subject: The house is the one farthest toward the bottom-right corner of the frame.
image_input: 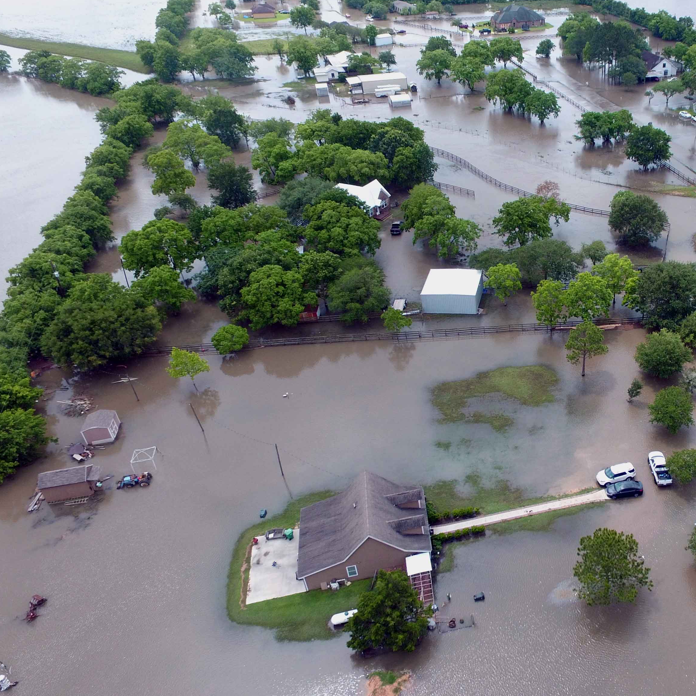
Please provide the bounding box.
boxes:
[296,469,431,591]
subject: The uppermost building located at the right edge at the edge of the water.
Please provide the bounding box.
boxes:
[634,48,690,83]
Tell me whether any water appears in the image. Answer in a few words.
Yes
